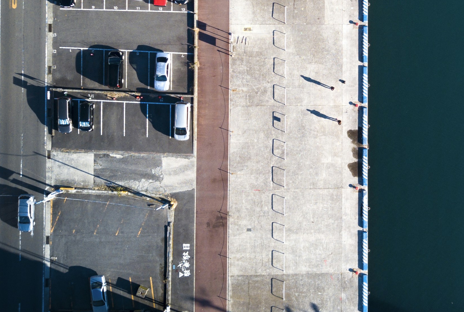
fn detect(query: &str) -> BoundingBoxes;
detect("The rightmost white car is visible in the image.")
[172,101,190,141]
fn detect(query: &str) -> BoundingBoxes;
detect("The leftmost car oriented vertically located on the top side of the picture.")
[53,96,72,135]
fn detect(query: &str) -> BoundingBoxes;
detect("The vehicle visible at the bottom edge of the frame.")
[89,277,108,312]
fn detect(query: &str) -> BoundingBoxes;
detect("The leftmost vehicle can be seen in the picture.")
[13,194,34,234]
